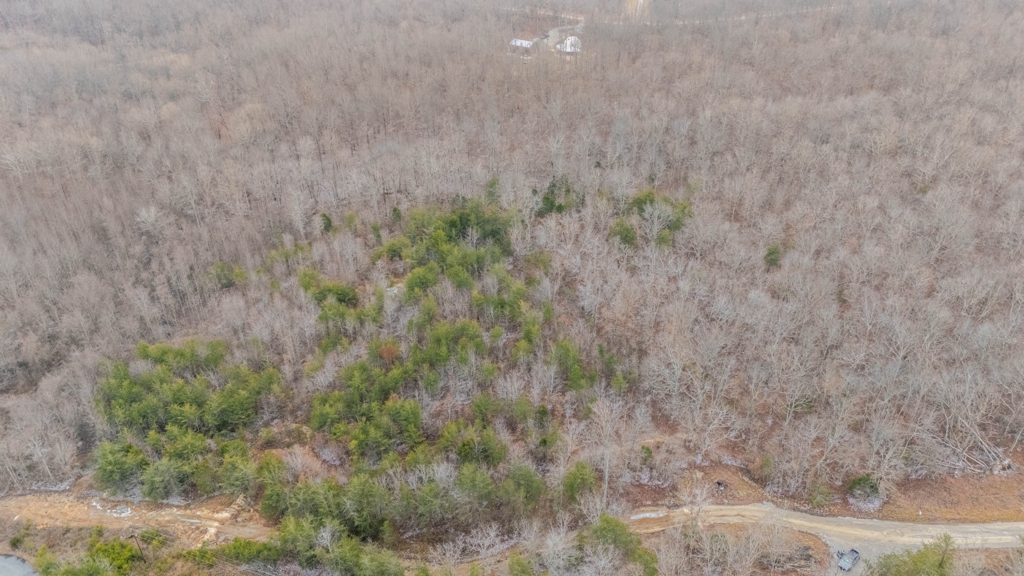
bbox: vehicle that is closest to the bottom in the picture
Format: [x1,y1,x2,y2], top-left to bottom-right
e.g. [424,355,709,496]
[839,548,861,573]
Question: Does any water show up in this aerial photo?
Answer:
No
